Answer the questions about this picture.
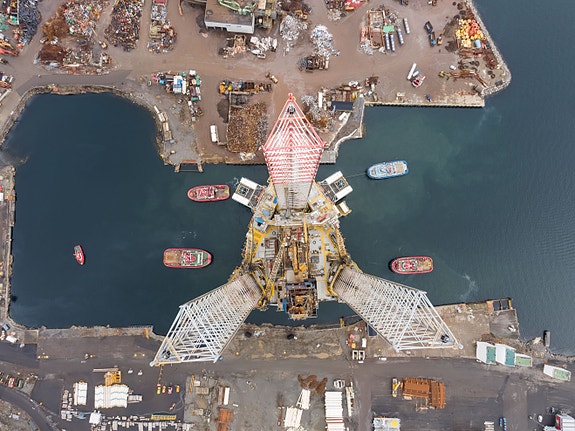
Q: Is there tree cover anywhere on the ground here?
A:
No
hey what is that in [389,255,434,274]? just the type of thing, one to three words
boat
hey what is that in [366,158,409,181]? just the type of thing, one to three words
boat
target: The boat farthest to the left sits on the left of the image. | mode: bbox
[70,245,84,265]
